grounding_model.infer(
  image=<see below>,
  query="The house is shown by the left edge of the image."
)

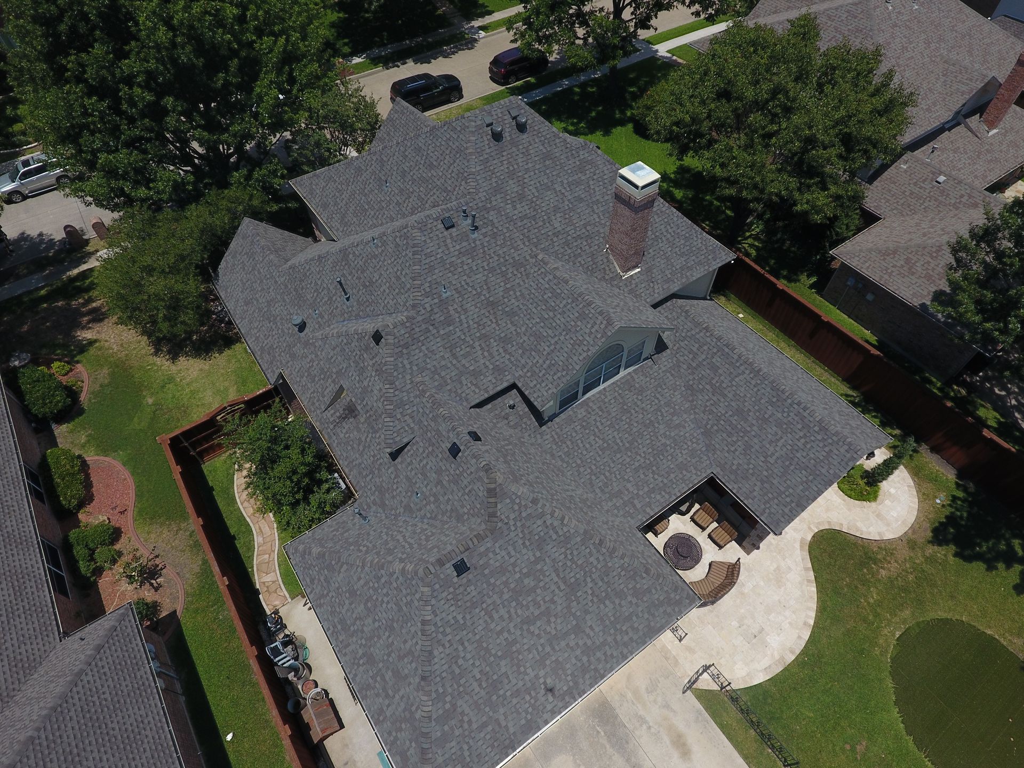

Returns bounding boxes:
[0,358,207,768]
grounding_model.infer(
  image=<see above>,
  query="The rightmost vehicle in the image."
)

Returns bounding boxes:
[496,45,554,82]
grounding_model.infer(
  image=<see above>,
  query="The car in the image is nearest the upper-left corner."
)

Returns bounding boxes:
[0,148,82,203]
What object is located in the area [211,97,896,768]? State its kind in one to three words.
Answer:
house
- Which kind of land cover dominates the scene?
buildings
